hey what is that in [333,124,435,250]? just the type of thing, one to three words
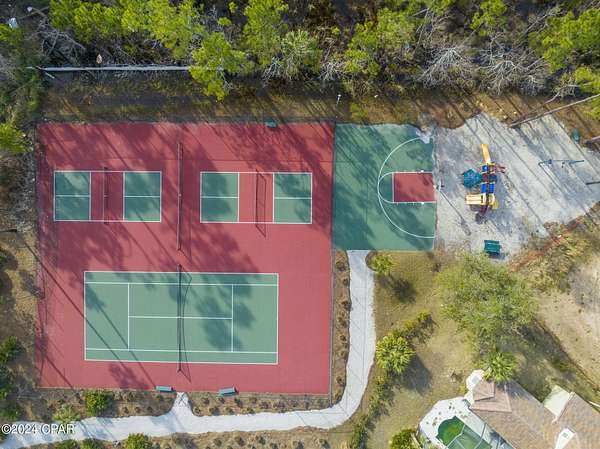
basketball court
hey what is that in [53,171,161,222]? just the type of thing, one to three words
sports court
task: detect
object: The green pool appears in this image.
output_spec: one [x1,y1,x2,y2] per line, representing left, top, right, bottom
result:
[437,416,495,449]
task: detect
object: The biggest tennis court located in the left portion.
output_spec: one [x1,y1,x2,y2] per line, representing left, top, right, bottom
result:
[84,271,278,365]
